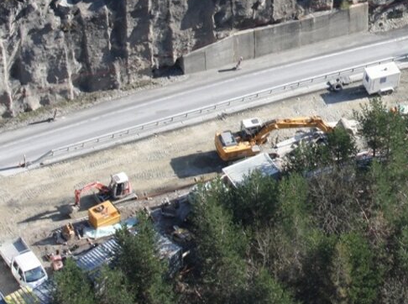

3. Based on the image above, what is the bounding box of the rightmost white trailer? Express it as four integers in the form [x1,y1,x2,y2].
[355,60,408,97]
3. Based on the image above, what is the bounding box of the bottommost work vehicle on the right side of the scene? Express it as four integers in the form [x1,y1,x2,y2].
[212,120,346,167]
